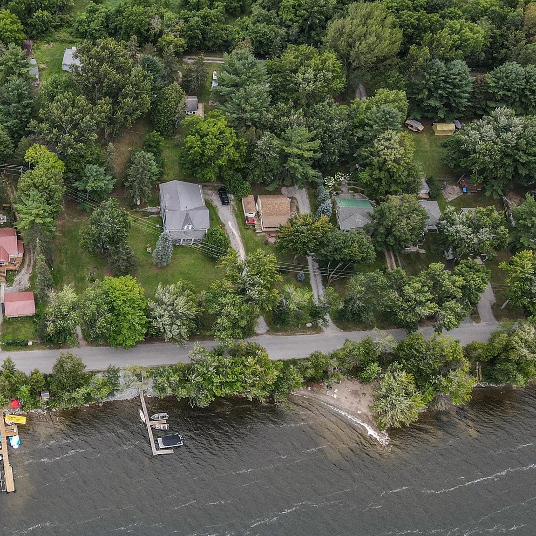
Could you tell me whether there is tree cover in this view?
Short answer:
Yes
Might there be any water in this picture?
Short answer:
Yes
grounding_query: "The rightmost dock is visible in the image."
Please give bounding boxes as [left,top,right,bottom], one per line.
[140,390,174,455]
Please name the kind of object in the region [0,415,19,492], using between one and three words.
pier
